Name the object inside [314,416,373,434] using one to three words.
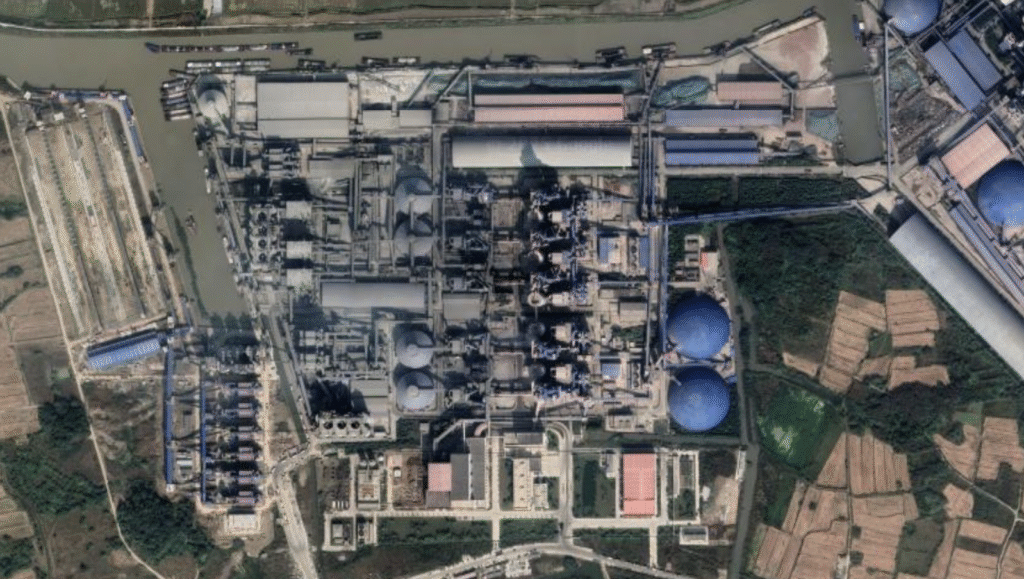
cooling tower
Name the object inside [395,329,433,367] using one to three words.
silo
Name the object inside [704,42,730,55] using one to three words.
ship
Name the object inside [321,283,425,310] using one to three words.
building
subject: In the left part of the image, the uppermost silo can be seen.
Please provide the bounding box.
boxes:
[199,85,229,115]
